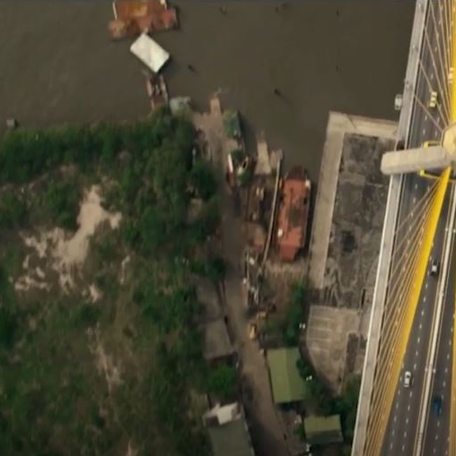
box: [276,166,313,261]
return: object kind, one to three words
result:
ship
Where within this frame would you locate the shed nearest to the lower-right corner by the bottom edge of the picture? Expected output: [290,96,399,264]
[304,416,343,445]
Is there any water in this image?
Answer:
Yes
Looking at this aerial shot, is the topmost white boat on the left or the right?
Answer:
left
